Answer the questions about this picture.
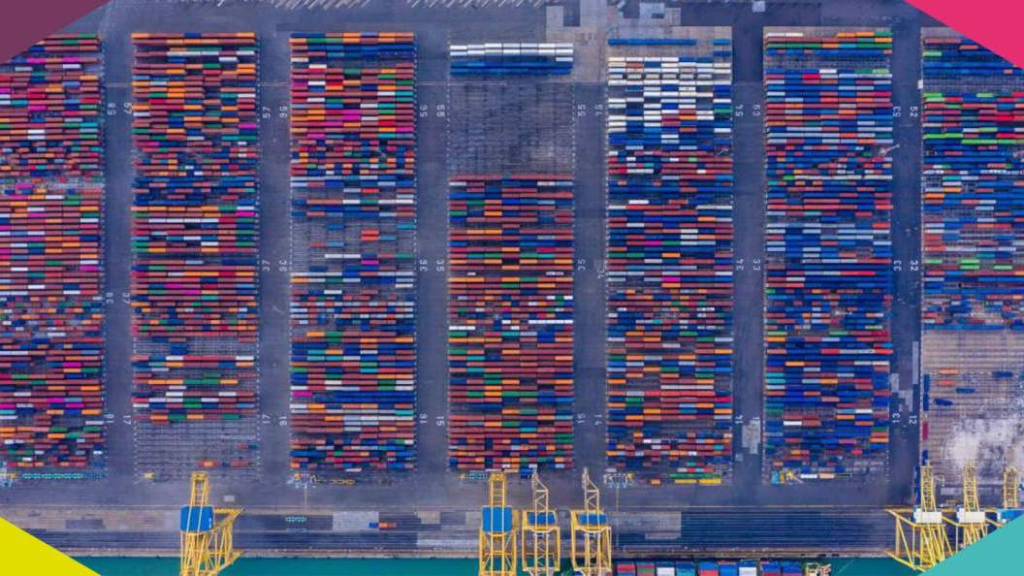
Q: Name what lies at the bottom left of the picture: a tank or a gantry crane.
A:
gantry crane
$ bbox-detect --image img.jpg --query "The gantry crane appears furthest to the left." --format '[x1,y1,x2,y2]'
[175,471,249,576]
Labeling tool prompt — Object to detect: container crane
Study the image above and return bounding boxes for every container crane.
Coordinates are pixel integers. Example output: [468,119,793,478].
[961,463,1024,576]
[920,463,1004,576]
[563,467,610,576]
[517,467,561,576]
[477,471,518,576]
[882,463,960,576]
[175,471,249,576]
